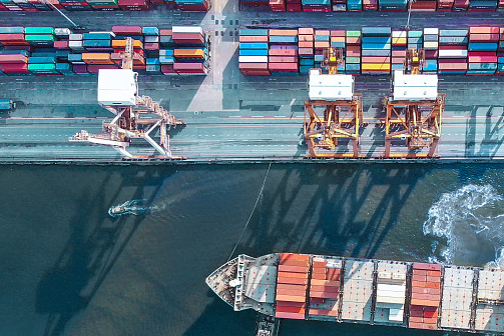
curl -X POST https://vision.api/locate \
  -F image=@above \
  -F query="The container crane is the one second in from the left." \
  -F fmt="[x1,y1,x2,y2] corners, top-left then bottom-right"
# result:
[302,45,368,156]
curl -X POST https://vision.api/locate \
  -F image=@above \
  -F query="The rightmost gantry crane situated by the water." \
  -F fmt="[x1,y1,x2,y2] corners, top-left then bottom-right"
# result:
[377,45,448,156]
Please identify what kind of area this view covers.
port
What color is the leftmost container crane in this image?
white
